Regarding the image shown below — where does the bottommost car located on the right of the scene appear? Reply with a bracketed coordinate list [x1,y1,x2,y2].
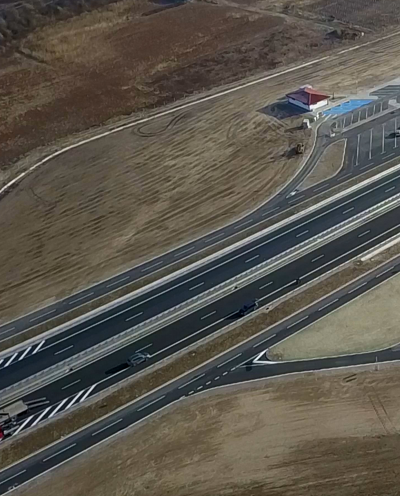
[236,301,257,315]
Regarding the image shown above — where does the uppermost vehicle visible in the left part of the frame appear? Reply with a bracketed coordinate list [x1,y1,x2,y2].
[125,352,149,368]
